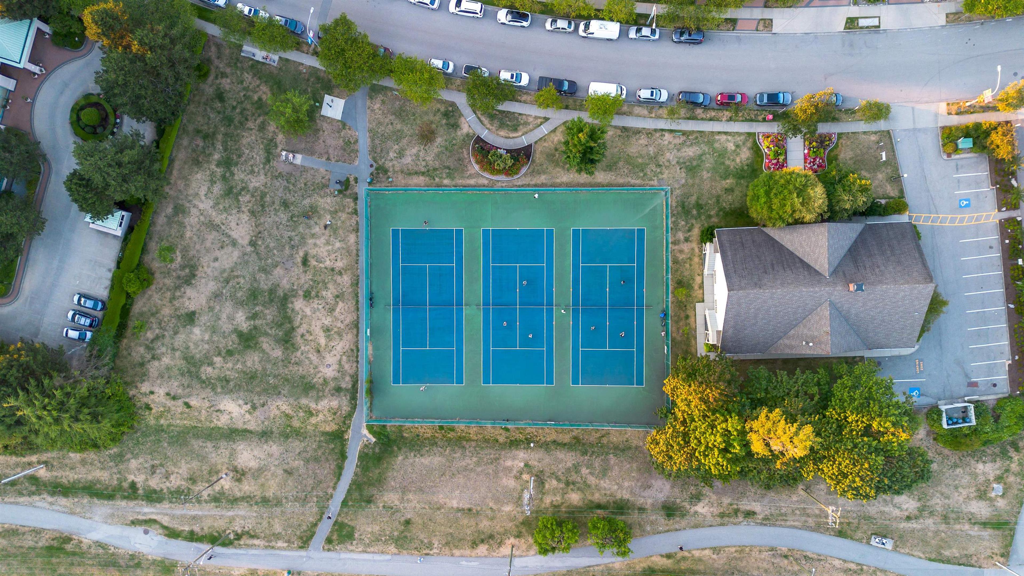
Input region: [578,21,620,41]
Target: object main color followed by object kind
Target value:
white vehicle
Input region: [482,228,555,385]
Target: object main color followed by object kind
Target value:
blue tennis court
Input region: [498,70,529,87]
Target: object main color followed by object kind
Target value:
white car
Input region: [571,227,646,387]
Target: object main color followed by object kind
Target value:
blue tennis court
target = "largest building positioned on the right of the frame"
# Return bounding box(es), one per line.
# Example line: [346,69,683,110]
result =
[700,221,937,354]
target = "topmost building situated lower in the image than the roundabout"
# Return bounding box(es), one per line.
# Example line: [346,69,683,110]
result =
[84,203,139,236]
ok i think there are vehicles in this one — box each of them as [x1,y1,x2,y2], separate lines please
[73,293,107,311]
[545,17,575,34]
[536,78,577,96]
[462,63,489,77]
[588,82,626,101]
[671,28,705,45]
[449,0,484,18]
[273,15,306,36]
[237,2,270,23]
[715,91,748,107]
[498,9,531,27]
[62,326,95,343]
[677,91,711,107]
[578,21,620,41]
[67,309,102,328]
[498,70,529,87]
[628,25,660,42]
[824,91,841,105]
[428,58,455,75]
[754,91,790,106]
[636,88,668,104]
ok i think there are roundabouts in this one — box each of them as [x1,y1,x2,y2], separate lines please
[66,94,115,141]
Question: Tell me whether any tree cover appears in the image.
Yes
